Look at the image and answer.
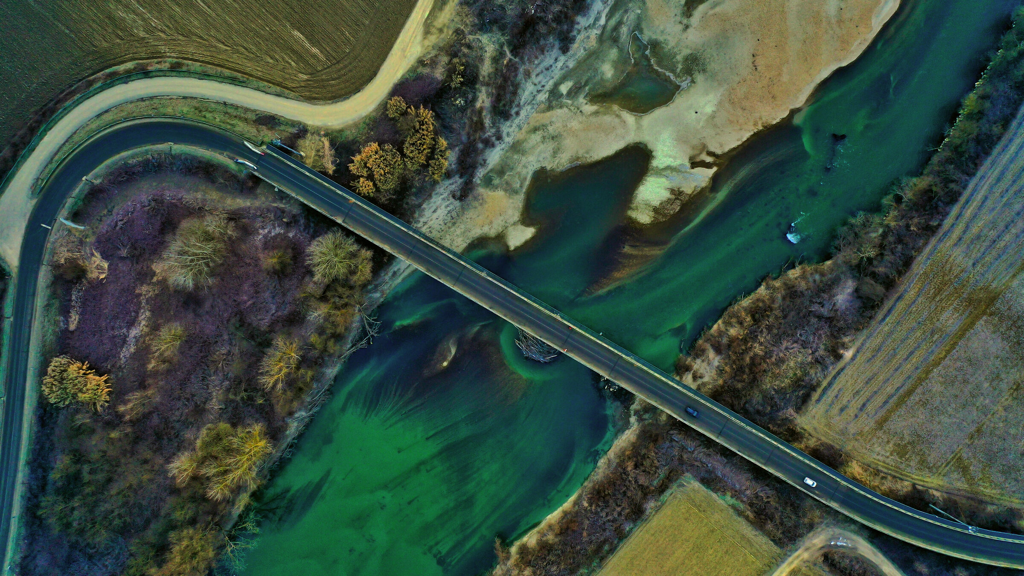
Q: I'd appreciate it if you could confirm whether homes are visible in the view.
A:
No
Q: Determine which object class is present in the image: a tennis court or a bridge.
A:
bridge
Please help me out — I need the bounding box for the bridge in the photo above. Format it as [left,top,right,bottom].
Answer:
[250,142,853,516]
